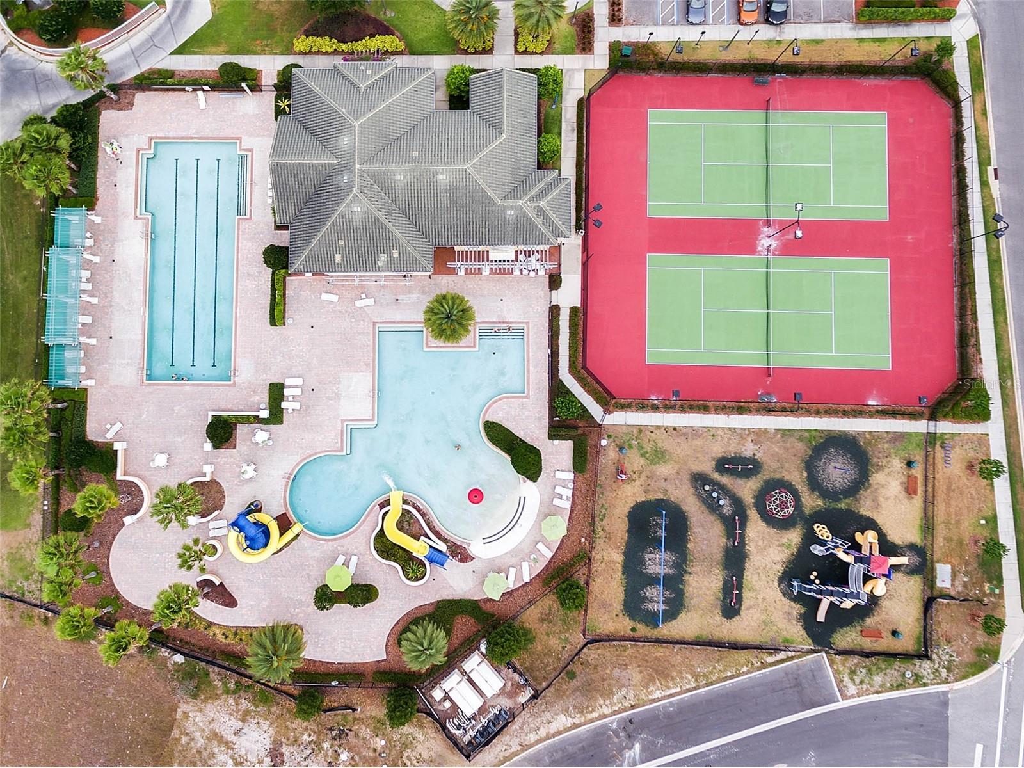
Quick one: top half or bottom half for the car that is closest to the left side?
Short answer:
top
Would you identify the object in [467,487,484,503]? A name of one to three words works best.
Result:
fountain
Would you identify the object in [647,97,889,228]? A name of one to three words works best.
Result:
tennis court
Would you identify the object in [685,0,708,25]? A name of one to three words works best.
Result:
car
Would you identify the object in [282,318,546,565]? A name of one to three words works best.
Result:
swimming pool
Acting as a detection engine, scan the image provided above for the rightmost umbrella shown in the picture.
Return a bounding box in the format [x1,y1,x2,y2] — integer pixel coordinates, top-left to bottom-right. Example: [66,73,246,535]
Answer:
[540,513,567,540]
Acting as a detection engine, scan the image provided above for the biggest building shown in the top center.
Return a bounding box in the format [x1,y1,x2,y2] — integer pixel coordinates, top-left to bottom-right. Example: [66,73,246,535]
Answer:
[271,61,572,275]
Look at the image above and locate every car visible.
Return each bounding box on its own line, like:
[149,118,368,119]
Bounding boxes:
[766,0,789,26]
[738,0,761,26]
[685,0,708,25]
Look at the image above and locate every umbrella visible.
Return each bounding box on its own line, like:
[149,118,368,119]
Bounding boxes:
[483,573,507,597]
[540,513,567,540]
[325,564,352,590]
